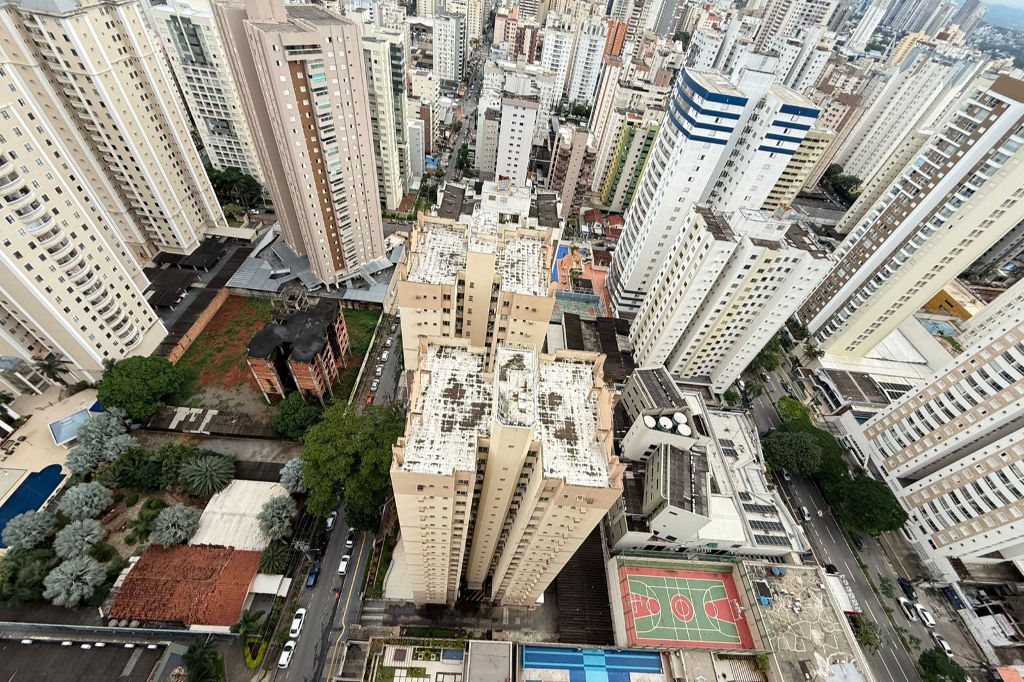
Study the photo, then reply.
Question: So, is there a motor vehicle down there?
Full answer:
Yes, the photo shows a motor vehicle.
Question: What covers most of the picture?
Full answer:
Most of the picture is covered by buildings.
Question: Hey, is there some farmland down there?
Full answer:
No, the picture contains no farmland.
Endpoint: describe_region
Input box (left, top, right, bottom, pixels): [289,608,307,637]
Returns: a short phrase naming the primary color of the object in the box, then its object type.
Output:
white car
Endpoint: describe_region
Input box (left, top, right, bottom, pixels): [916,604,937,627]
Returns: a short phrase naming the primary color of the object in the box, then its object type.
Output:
white car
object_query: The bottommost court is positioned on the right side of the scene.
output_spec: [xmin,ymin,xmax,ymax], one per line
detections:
[618,561,750,646]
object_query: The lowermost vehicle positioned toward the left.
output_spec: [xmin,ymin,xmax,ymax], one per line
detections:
[277,639,296,670]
